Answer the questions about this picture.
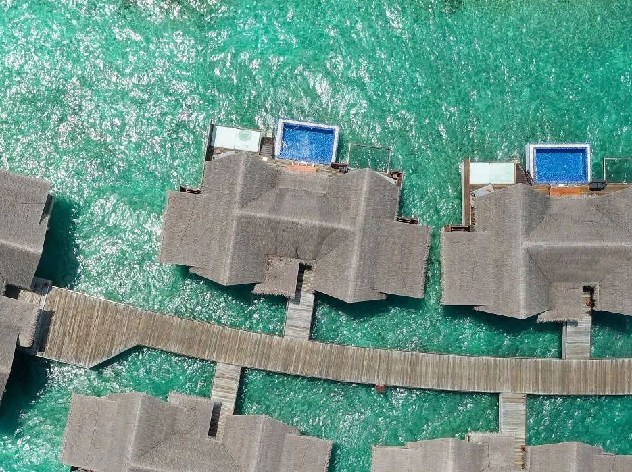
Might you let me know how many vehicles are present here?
0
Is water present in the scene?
Yes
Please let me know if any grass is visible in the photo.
No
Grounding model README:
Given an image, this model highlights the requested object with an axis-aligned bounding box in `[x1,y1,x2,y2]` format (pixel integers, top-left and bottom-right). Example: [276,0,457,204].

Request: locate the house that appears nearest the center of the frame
[154,120,430,302]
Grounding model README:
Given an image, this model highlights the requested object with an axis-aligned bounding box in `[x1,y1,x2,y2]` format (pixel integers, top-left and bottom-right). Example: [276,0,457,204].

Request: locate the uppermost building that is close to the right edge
[436,155,632,324]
